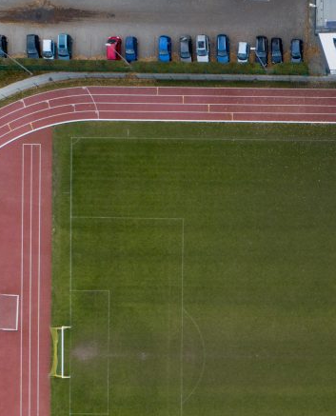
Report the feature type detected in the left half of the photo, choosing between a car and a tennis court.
car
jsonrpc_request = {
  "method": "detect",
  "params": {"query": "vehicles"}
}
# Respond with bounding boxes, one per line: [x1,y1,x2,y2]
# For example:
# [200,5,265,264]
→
[194,35,209,64]
[107,37,121,60]
[156,35,171,62]
[39,37,54,62]
[234,40,248,65]
[122,36,137,62]
[22,35,39,59]
[255,36,268,64]
[270,38,282,64]
[55,33,71,60]
[288,38,303,64]
[214,33,230,64]
[176,36,192,62]
[0,35,7,59]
